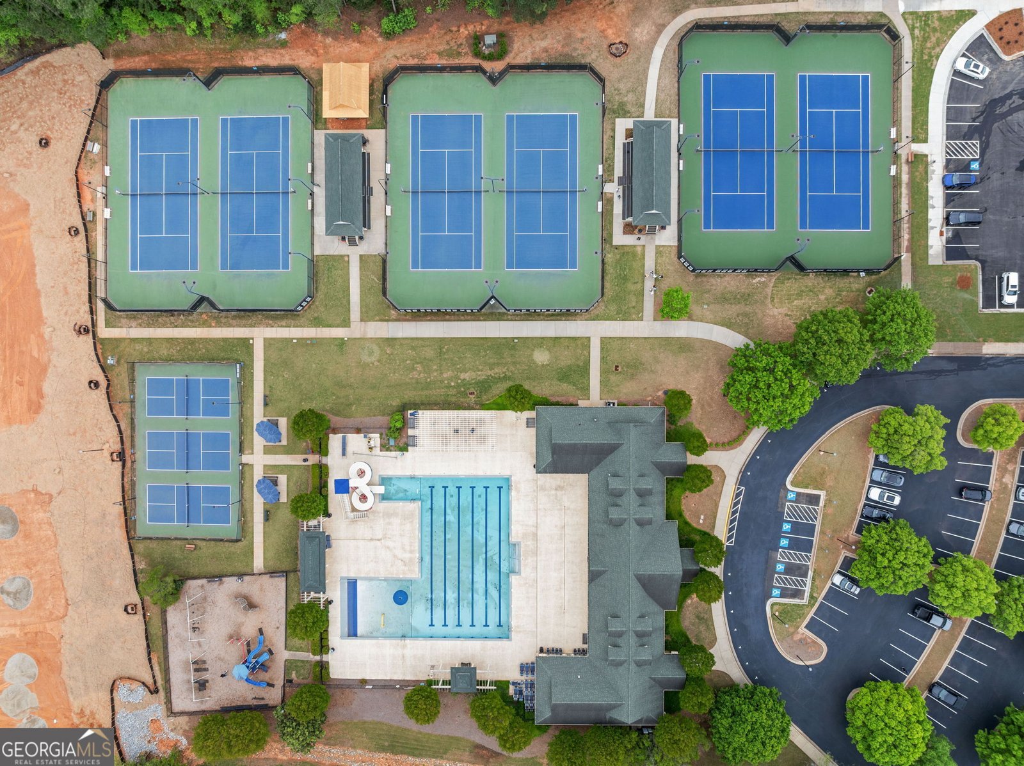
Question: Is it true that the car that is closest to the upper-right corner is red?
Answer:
No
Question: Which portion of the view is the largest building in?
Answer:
bottom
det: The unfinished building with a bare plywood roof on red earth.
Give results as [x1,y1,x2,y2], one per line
[322,62,371,122]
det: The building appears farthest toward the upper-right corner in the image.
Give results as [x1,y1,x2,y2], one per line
[622,119,671,234]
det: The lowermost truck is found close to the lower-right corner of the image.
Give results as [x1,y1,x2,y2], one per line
[926,682,968,713]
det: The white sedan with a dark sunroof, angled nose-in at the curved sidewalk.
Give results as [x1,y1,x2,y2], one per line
[952,59,988,80]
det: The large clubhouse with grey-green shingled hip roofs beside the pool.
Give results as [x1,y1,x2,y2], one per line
[534,406,701,726]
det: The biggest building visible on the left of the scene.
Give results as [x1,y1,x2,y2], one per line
[324,132,372,246]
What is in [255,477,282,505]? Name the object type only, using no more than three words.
umbrella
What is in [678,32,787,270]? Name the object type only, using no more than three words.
tennis court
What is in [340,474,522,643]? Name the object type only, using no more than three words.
swimming pool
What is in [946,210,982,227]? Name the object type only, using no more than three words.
car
